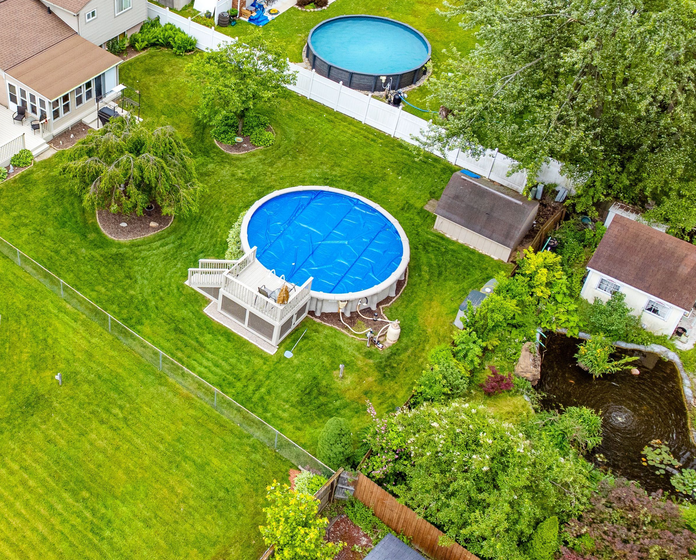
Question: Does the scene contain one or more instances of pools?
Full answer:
Yes, the photo shows a pool.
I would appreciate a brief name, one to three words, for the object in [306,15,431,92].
swimming pool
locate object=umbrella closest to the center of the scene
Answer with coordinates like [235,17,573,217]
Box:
[275,282,288,306]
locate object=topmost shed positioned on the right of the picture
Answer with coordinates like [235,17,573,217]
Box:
[432,172,542,260]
